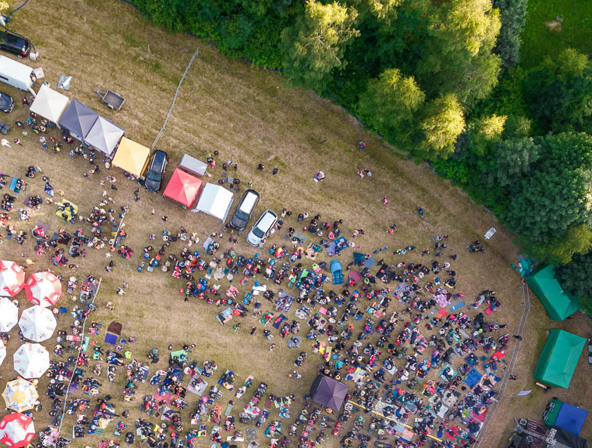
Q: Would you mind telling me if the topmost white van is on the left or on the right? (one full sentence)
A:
The topmost white van appears in the left half of the scene.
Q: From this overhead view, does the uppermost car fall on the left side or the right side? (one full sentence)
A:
The uppermost car appears in the left half of the scene.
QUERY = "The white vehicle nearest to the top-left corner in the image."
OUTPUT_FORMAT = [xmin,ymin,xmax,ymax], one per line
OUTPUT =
[0,59,50,98]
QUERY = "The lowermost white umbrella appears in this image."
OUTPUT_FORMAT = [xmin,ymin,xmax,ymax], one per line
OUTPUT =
[0,412,34,448]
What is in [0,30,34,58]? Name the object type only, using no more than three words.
car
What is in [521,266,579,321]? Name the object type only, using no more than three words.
gazebo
